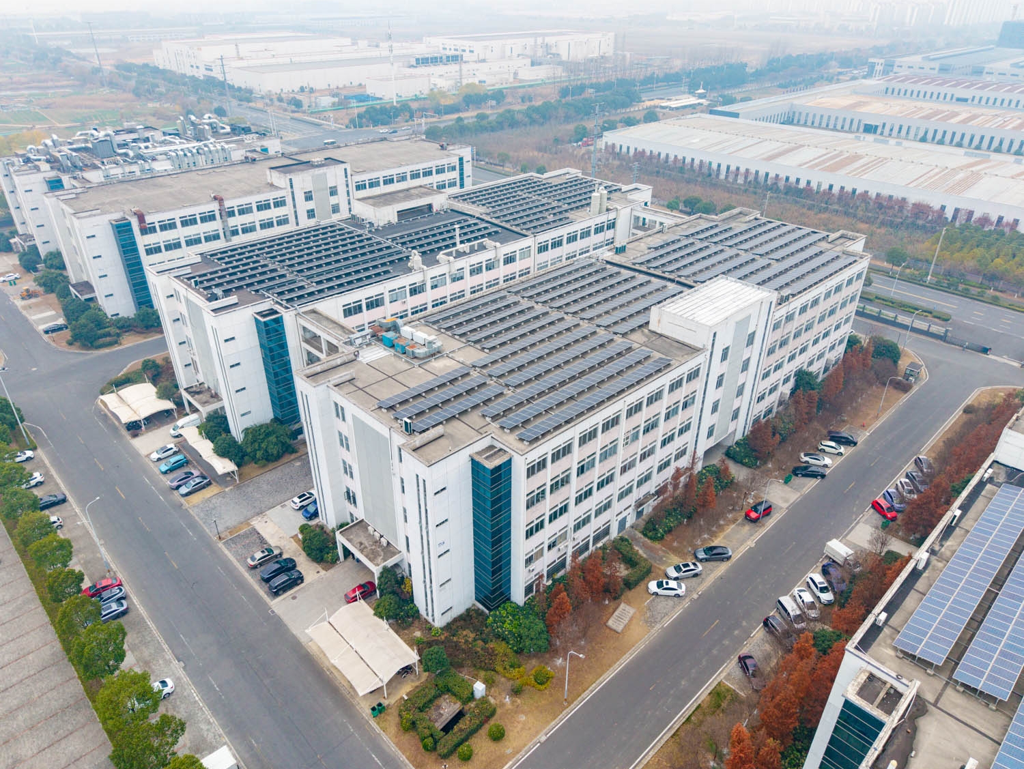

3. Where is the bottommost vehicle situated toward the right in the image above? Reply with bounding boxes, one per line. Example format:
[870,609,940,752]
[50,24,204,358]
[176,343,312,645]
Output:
[733,650,769,689]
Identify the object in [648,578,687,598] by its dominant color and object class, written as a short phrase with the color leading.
white car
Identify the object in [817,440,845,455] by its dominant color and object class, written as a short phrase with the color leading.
white car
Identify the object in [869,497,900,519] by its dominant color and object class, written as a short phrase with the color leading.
red car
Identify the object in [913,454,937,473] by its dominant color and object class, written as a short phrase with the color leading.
gray car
